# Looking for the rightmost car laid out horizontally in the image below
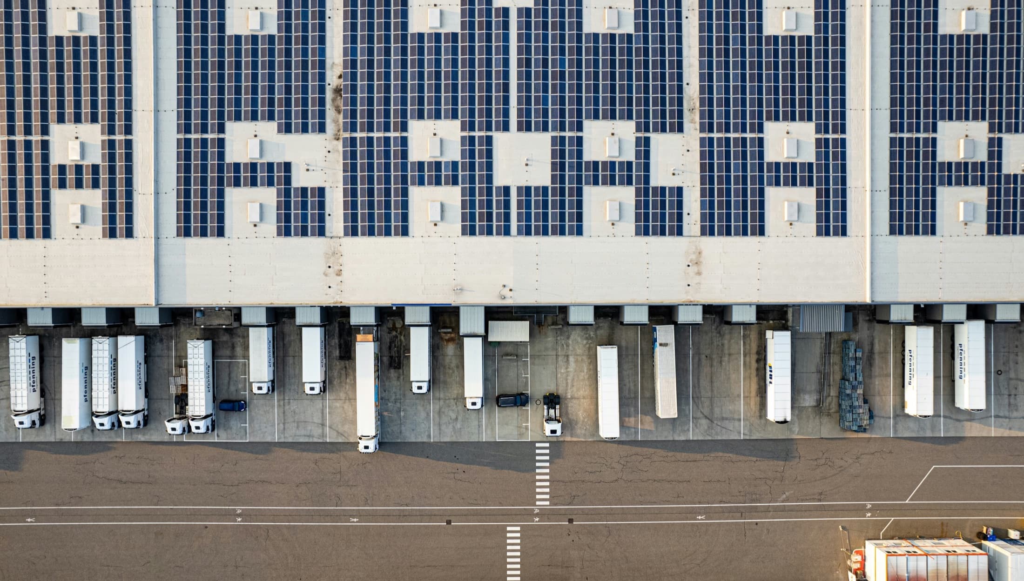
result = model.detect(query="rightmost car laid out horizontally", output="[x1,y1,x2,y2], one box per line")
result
[496,393,529,408]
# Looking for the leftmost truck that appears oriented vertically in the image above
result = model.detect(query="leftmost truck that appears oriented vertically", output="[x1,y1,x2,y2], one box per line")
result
[8,335,47,428]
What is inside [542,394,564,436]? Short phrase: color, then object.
white vehicle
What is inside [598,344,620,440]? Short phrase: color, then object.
white trailer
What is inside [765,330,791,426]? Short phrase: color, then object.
white trailer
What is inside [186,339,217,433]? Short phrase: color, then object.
white truck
